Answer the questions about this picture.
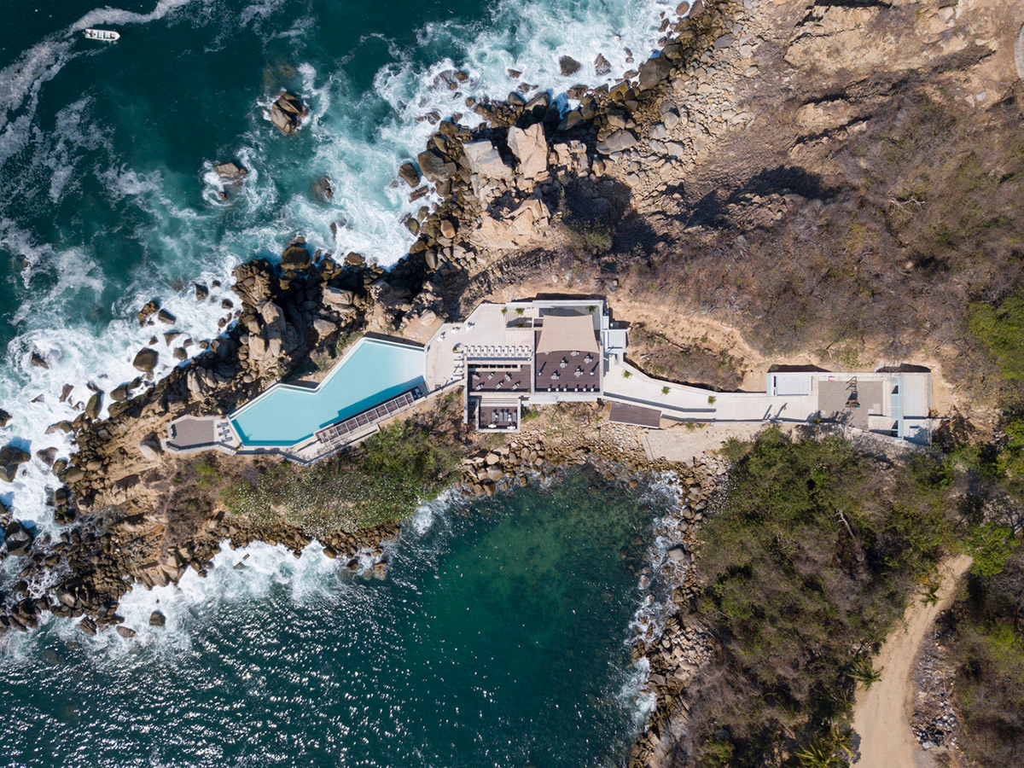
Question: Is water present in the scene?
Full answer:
Yes, water can be seen from above here.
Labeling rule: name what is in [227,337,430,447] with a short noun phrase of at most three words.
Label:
swimming pool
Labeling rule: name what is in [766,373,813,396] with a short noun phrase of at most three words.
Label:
building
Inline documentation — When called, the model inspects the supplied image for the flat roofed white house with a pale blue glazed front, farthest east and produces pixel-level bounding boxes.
[889,373,931,449]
